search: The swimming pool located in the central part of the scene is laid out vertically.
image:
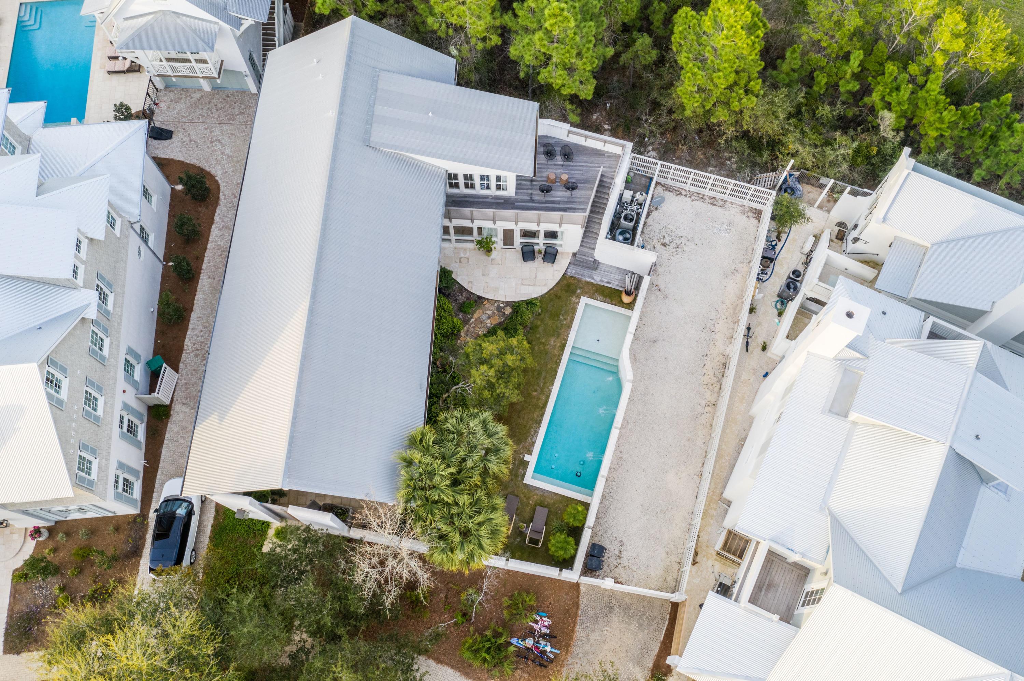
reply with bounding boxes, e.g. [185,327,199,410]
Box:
[522,294,633,505]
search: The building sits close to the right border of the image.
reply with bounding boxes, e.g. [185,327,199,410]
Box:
[675,153,1024,681]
